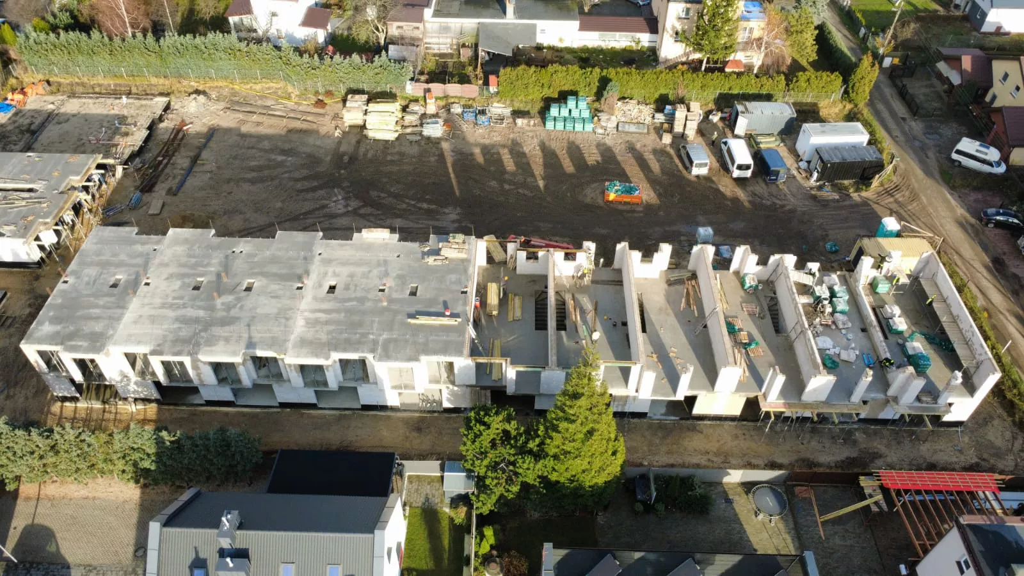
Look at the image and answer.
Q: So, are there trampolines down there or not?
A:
Yes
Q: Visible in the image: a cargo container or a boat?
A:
cargo container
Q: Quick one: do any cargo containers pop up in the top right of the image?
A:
Yes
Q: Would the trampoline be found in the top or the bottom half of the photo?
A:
bottom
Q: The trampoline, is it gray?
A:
Yes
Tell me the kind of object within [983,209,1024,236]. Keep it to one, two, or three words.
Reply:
car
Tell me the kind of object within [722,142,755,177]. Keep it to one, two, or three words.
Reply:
van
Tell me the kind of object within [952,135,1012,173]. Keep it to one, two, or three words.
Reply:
van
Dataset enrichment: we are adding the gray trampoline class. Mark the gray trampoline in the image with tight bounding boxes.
[748,483,792,535]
